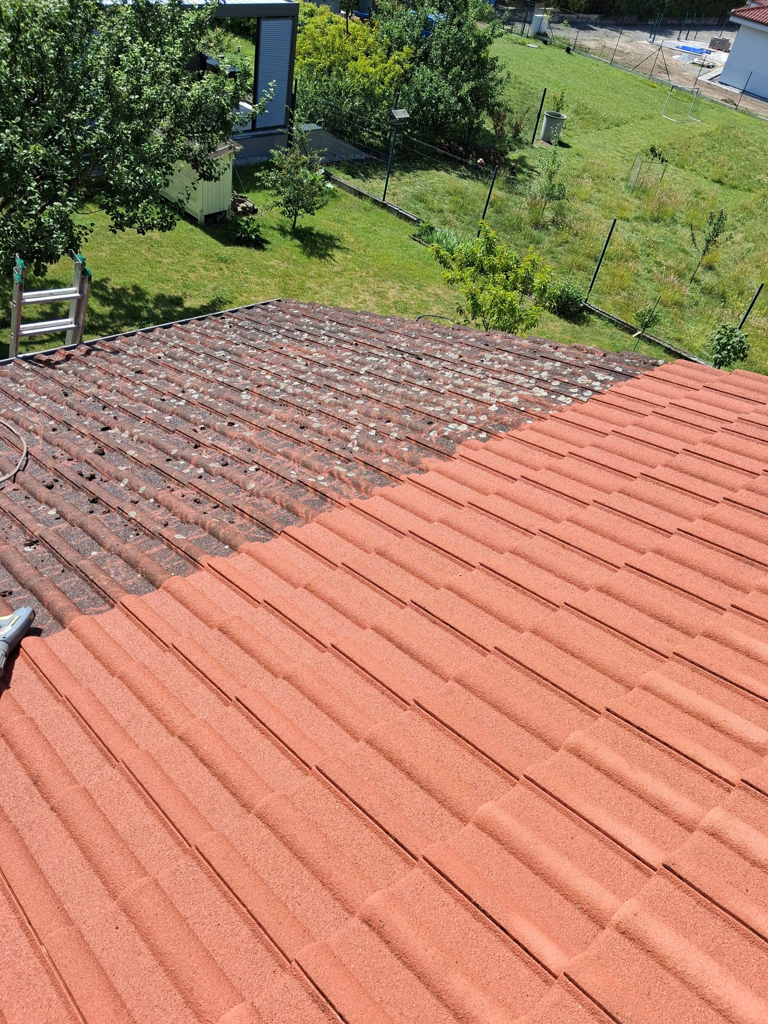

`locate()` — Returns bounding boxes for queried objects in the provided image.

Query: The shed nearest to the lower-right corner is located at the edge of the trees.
[0,290,768,1024]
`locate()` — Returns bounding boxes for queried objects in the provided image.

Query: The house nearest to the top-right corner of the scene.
[718,2,768,101]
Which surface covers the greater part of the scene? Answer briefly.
buildings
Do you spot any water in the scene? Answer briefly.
No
